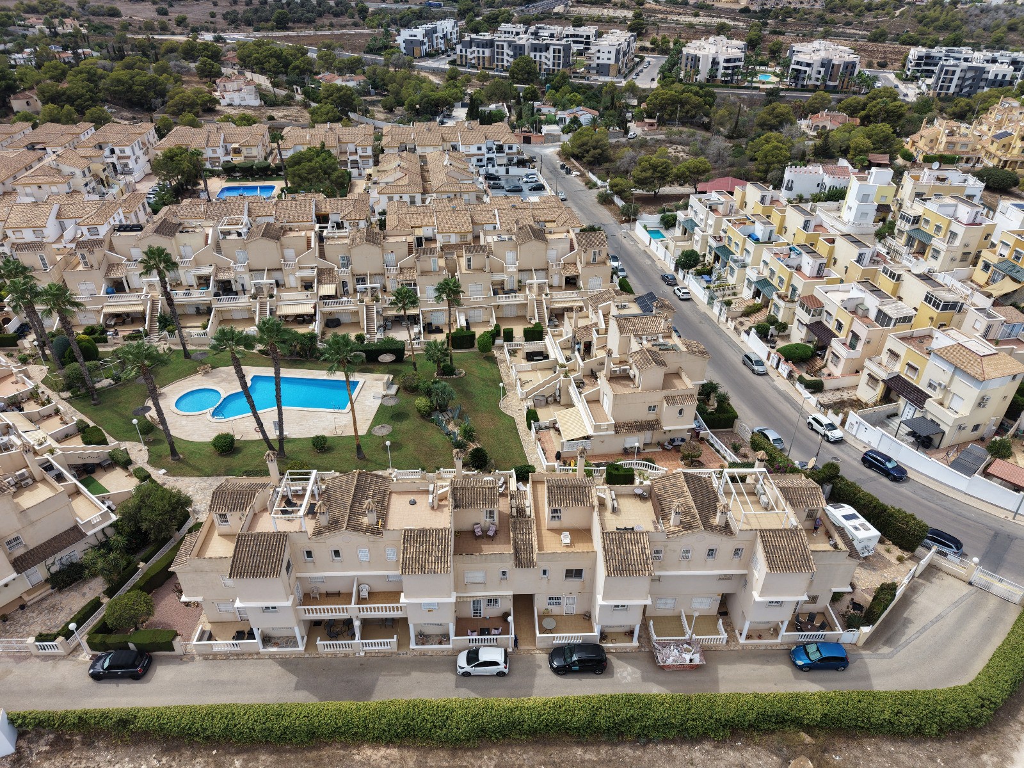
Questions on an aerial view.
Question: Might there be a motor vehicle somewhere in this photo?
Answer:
Yes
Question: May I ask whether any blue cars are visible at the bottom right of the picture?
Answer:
Yes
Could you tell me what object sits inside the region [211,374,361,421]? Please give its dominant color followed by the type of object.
blue swimming pool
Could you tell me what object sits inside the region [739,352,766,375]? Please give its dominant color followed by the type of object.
gray car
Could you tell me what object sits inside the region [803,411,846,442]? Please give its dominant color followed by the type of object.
white car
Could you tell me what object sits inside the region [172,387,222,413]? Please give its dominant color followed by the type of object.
blue swimming pool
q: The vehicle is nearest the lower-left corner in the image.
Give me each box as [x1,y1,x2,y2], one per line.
[89,652,151,684]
